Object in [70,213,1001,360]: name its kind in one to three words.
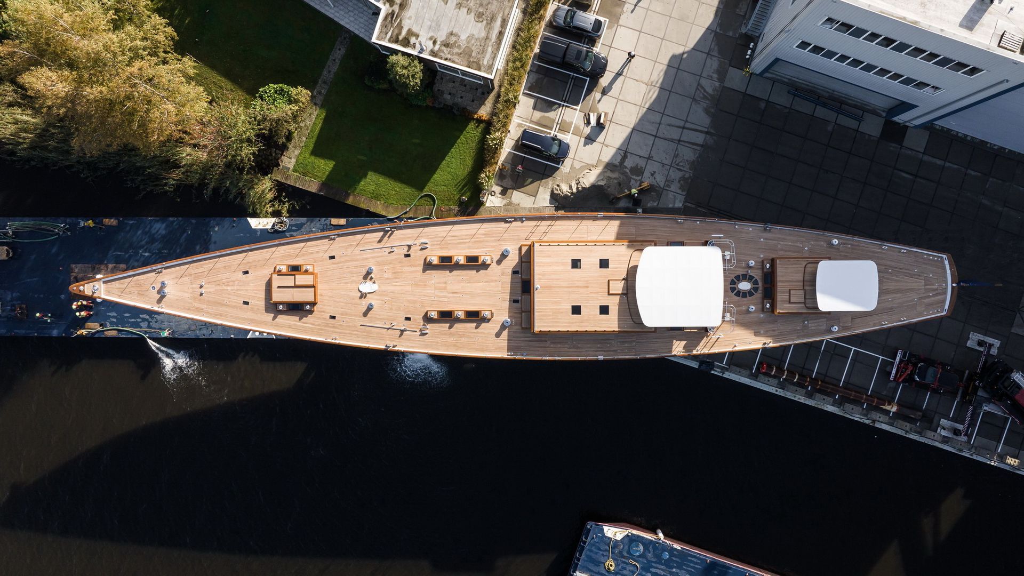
boat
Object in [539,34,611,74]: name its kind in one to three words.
car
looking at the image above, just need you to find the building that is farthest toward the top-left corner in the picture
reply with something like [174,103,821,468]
[369,0,528,91]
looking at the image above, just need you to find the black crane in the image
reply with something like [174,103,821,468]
[900,342,1024,439]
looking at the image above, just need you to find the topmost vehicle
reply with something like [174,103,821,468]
[550,3,607,38]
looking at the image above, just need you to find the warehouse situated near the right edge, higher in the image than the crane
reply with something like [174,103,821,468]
[749,0,1024,153]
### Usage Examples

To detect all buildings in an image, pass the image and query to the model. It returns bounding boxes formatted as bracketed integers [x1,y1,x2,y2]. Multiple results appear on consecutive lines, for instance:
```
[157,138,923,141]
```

[369,0,528,91]
[749,0,1024,153]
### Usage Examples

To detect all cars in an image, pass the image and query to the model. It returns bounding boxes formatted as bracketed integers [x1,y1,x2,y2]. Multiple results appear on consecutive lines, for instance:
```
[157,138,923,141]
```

[517,127,573,161]
[550,3,607,38]
[539,34,611,74]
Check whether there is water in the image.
Yes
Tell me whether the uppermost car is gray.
Yes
